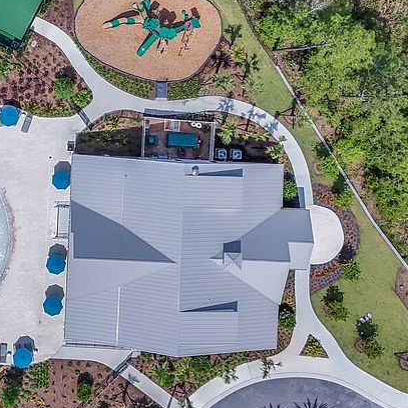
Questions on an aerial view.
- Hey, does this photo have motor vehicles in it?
No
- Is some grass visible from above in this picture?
Yes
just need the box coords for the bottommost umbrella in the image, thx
[13,347,34,368]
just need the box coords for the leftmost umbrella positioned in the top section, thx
[0,105,19,125]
